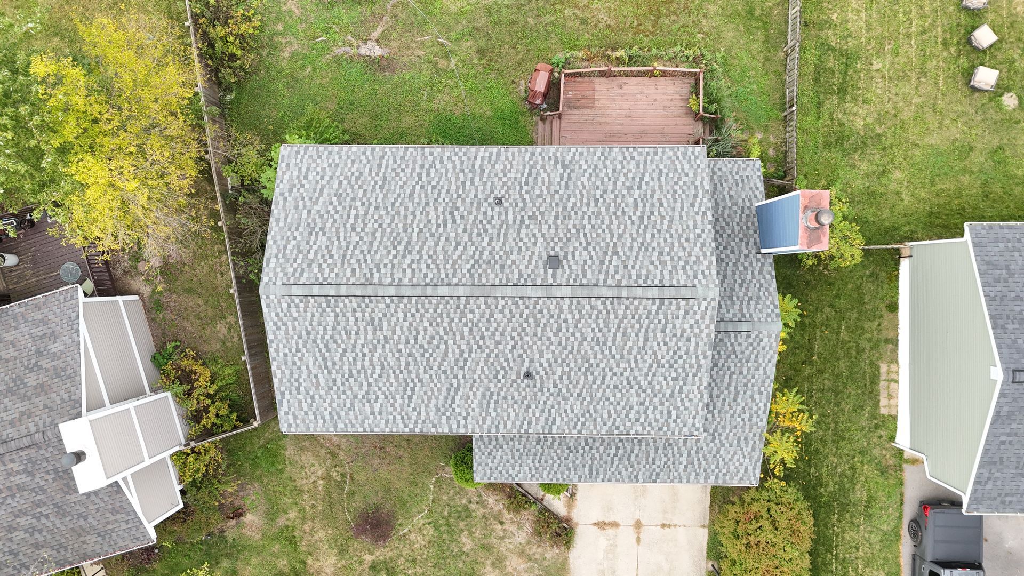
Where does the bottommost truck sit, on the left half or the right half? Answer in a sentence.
The bottommost truck appears in the right half of the scene.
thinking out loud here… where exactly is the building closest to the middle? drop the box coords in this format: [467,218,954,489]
[260,142,835,489]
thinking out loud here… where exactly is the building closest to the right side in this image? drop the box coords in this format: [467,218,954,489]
[883,220,1024,517]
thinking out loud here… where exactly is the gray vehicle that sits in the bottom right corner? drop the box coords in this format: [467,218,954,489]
[903,496,986,576]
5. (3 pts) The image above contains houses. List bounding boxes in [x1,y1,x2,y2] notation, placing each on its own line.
[260,142,835,489]
[883,220,1024,517]
[0,283,200,576]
